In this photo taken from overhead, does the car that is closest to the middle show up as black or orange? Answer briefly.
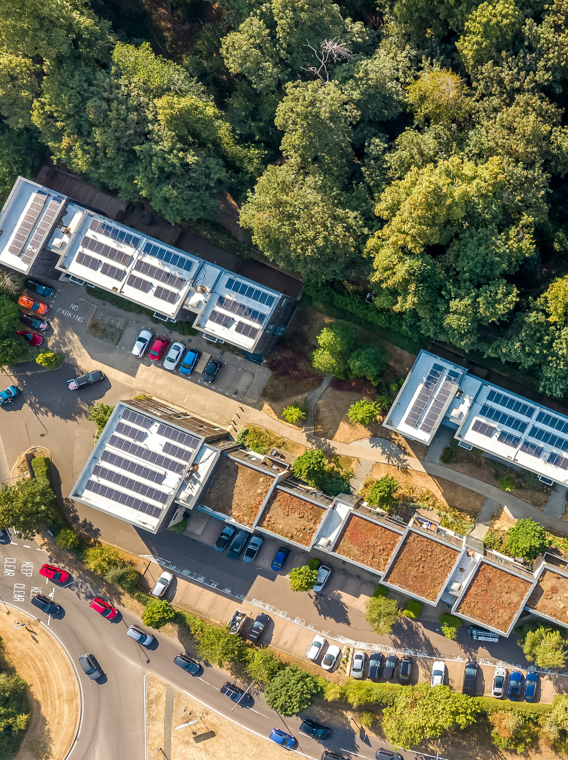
black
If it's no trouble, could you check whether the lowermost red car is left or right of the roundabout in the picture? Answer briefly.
to its right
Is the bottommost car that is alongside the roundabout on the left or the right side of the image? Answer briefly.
left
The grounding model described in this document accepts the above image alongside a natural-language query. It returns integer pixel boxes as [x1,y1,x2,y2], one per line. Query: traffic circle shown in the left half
[0,607,77,760]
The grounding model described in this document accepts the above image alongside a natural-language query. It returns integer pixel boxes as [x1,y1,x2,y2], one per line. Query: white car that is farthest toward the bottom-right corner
[492,665,507,696]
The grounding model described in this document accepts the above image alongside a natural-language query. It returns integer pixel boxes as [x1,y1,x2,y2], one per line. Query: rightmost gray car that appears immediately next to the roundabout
[76,650,104,683]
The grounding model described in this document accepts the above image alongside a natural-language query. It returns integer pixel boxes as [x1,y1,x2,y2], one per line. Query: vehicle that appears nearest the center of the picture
[202,357,223,385]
